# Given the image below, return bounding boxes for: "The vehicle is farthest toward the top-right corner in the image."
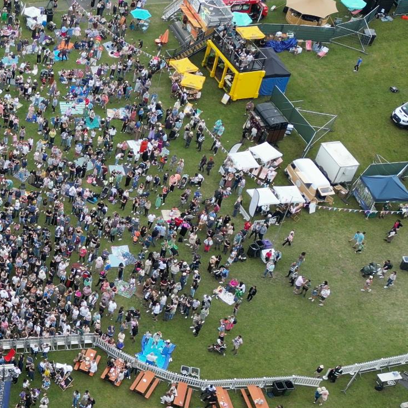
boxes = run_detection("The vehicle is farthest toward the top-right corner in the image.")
[385,93,408,127]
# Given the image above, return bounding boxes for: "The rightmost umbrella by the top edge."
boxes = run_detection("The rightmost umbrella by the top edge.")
[339,0,367,19]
